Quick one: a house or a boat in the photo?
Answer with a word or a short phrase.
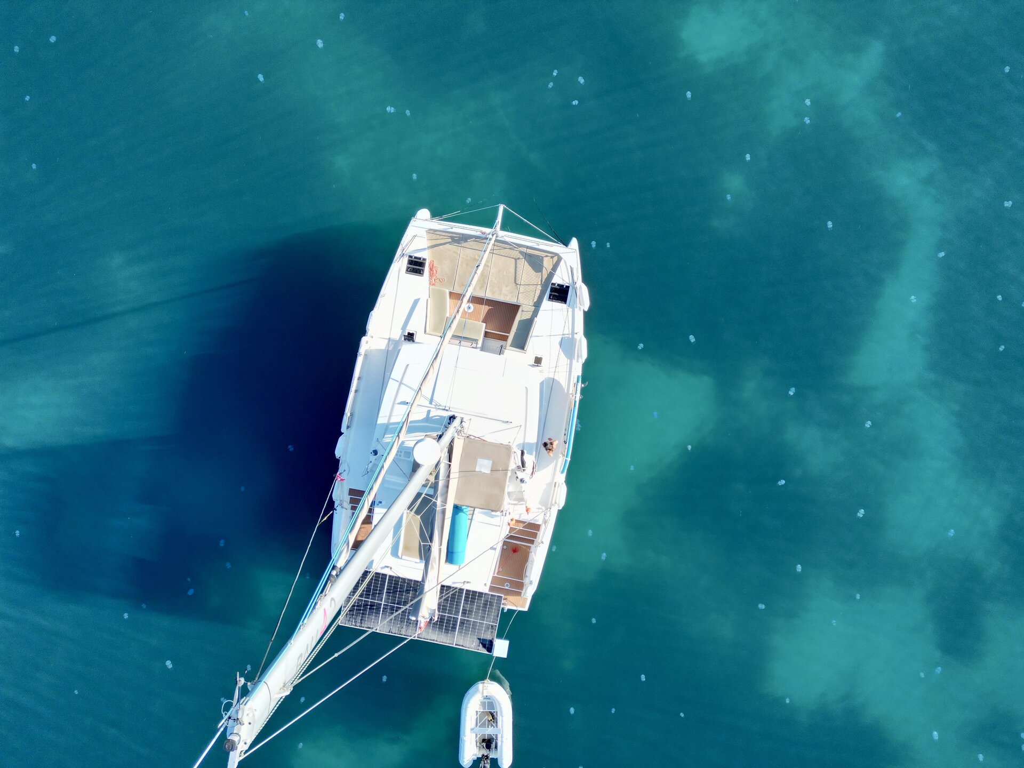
boat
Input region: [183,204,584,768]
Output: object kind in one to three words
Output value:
boat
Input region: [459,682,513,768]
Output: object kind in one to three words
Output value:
boat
